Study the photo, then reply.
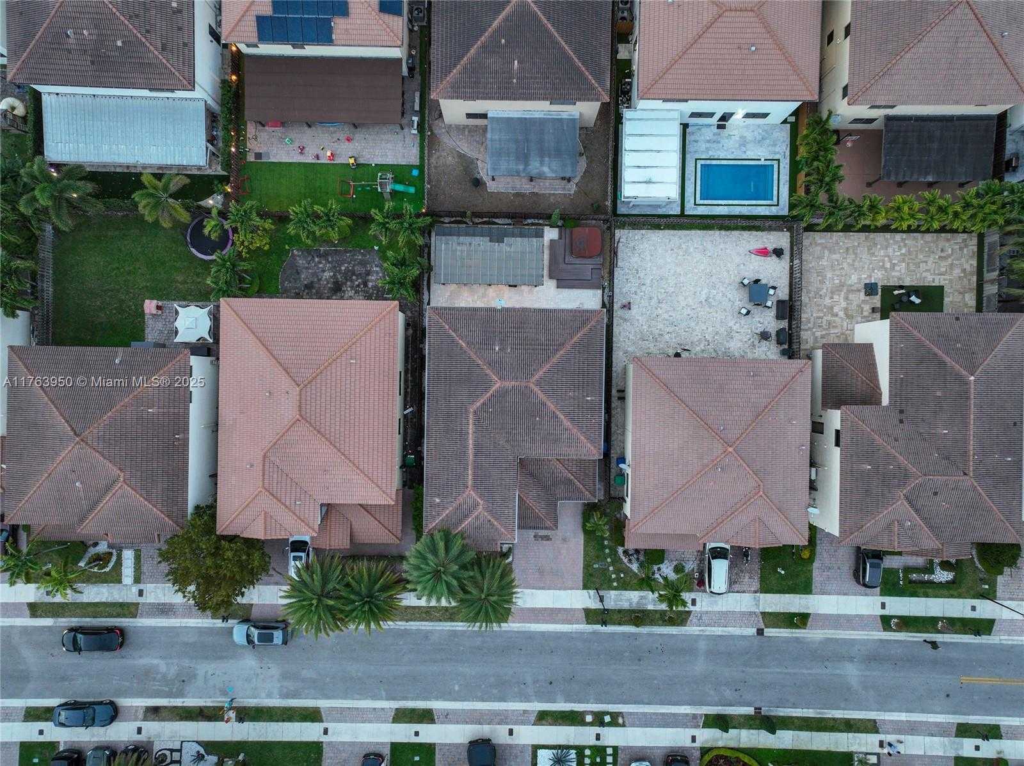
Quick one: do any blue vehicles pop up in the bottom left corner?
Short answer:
Yes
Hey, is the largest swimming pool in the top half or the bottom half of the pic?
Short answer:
top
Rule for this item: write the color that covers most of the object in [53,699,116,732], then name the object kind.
blue car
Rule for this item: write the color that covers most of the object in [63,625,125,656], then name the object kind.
black car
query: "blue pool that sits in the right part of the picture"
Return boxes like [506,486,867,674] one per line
[695,158,780,206]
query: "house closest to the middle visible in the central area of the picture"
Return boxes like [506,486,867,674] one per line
[423,305,606,551]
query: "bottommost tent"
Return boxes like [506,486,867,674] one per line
[174,304,219,344]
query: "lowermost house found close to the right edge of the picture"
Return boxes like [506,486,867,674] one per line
[811,311,1024,562]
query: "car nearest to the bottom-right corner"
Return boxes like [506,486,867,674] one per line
[852,546,883,588]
